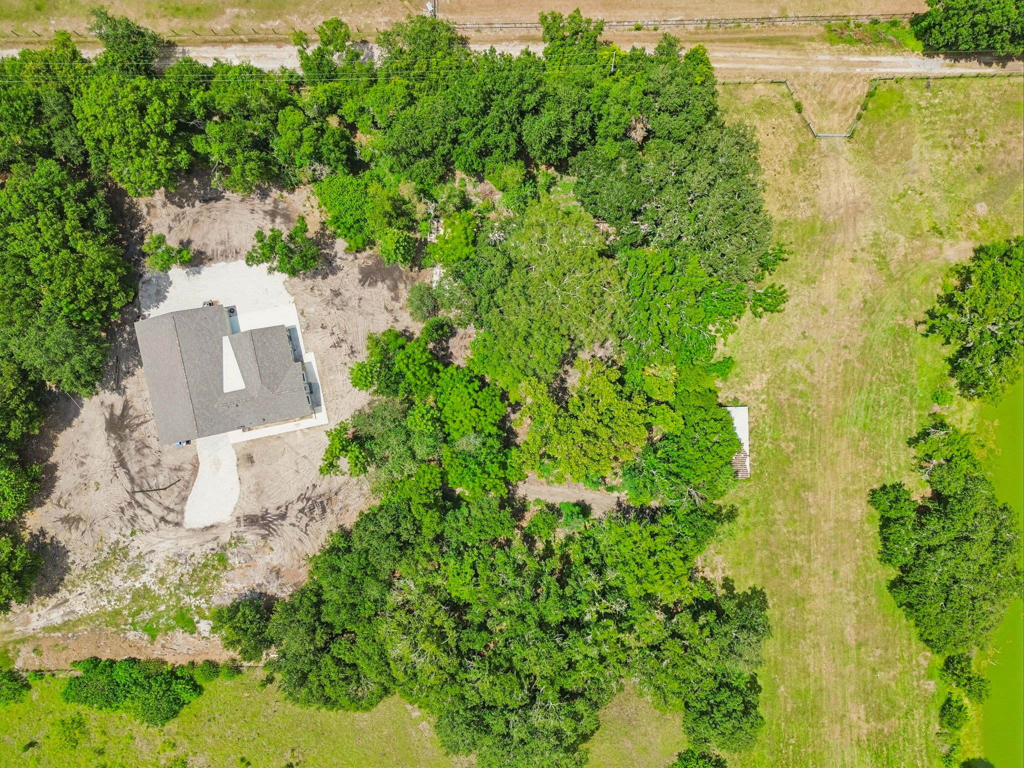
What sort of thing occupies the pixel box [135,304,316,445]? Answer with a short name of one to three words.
house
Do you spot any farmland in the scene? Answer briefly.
Yes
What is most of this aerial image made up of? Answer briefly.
trees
